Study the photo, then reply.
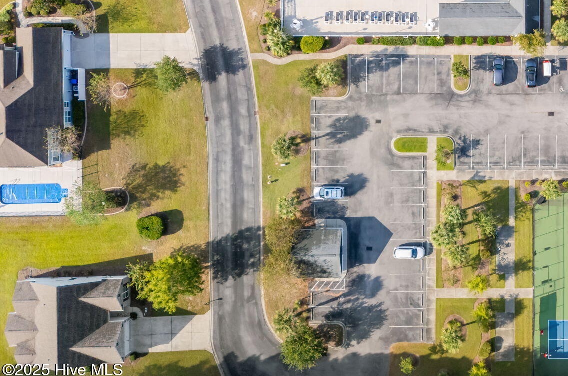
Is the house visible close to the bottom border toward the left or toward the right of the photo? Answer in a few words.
left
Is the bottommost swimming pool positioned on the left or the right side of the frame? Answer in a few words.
left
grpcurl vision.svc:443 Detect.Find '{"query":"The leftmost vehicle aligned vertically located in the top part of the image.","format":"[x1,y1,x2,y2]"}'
[492,58,506,86]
